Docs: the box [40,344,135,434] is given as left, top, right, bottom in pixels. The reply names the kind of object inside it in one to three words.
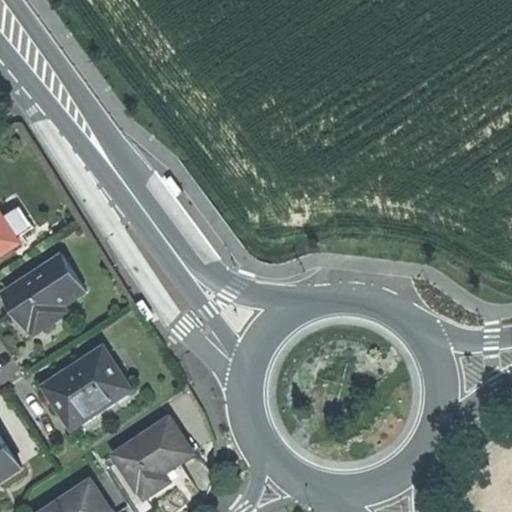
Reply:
house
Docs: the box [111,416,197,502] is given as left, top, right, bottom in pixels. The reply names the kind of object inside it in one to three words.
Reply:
house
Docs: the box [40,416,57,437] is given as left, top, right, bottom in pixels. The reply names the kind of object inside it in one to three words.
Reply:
car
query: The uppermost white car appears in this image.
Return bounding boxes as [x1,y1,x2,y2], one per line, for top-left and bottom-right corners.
[26,394,45,416]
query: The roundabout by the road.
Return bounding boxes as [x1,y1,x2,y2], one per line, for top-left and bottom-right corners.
[239,288,451,500]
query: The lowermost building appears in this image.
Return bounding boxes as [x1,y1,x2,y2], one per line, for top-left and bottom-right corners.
[40,478,114,512]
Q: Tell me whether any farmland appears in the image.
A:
Yes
